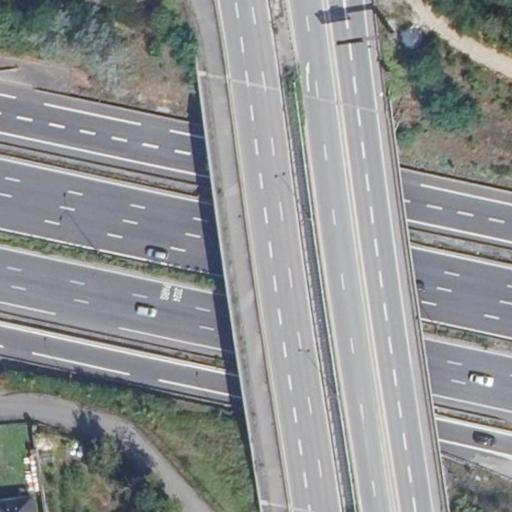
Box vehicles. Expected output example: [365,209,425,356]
[472,432,496,445]
[147,248,168,260]
[416,280,424,290]
[470,374,494,386]
[136,304,158,317]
